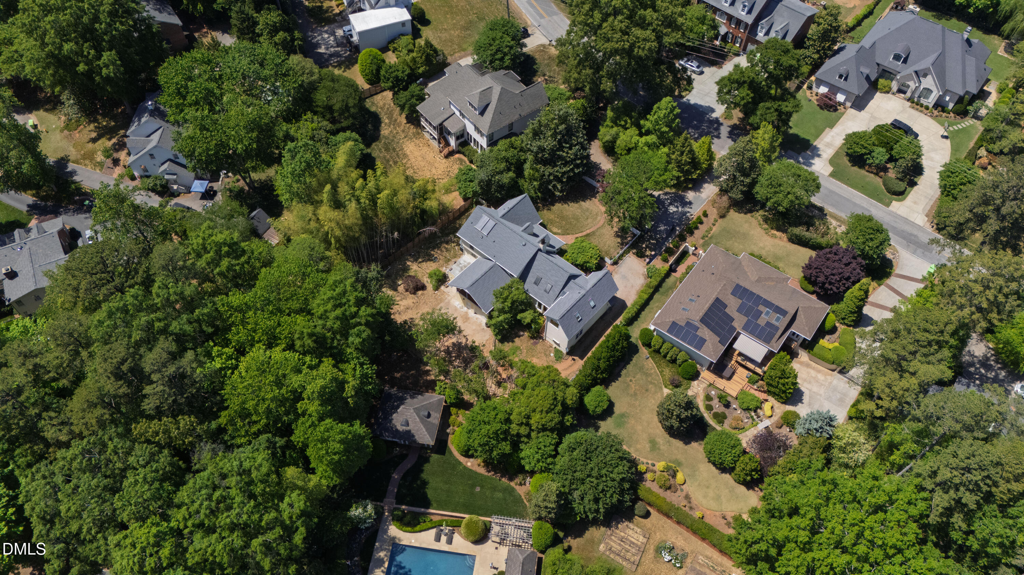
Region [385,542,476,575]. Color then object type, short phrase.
blue swimming pool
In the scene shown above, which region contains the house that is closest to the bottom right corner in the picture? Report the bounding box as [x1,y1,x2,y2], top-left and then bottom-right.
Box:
[649,243,831,370]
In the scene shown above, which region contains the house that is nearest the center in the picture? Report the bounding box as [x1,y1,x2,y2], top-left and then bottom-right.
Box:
[446,194,619,352]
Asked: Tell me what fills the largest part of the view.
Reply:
trees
